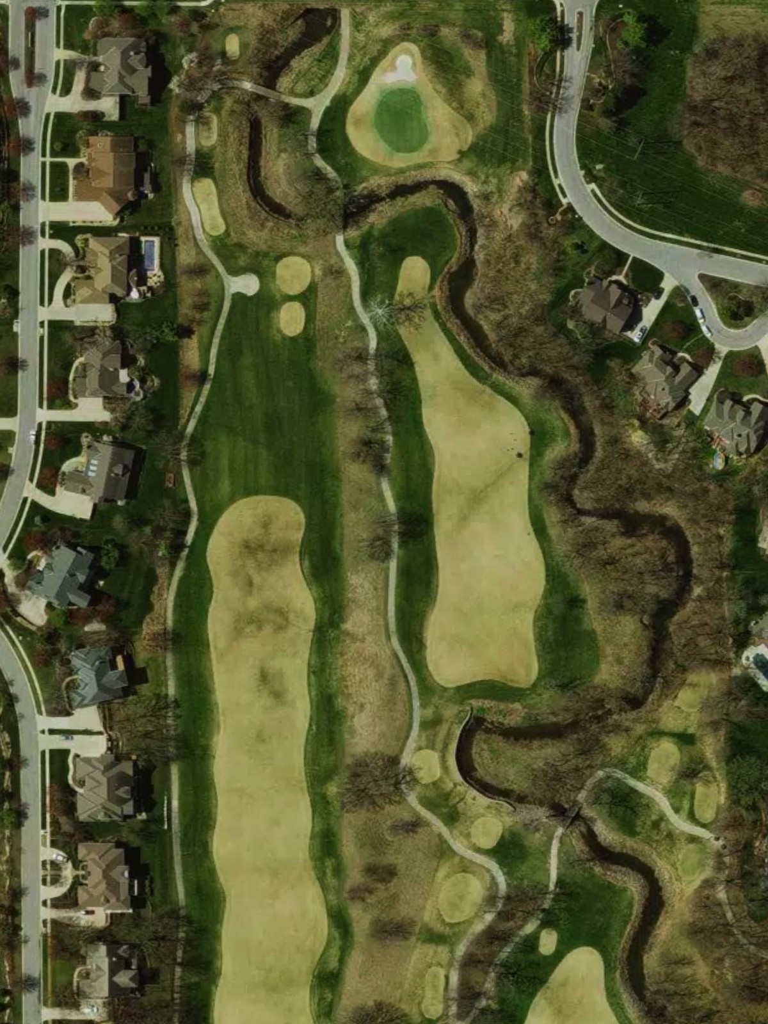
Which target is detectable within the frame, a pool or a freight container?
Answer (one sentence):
I can see a pool in this picture.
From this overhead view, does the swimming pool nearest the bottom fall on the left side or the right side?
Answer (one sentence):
You can find the swimming pool nearest the bottom on the right side of the picture.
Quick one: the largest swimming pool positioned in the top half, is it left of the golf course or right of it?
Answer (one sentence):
Looking at the photo, the largest swimming pool positioned in the top half lies to the left of the golf course.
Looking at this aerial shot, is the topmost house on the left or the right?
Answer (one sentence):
The topmost house sits on the left side.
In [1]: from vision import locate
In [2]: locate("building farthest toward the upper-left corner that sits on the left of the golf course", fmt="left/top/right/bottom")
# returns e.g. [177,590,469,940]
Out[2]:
[89,36,150,105]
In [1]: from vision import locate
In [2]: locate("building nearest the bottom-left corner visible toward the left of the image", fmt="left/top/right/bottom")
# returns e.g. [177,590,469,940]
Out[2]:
[77,944,139,1000]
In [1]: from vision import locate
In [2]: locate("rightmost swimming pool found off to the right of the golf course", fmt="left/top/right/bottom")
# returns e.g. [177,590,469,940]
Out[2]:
[742,643,768,693]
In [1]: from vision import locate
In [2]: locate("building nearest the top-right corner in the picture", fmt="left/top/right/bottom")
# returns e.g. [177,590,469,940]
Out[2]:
[577,276,641,336]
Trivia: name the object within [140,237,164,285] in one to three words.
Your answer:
swimming pool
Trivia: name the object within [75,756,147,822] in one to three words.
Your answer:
house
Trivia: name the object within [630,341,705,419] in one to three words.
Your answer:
house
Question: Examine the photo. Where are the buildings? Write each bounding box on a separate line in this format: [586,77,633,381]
[577,276,641,336]
[75,756,147,822]
[77,944,139,1000]
[705,396,768,458]
[76,134,150,217]
[89,36,150,105]
[61,440,133,504]
[630,341,705,419]
[77,844,138,913]
[67,647,129,709]
[20,540,97,610]
[71,340,130,398]
[75,236,145,303]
